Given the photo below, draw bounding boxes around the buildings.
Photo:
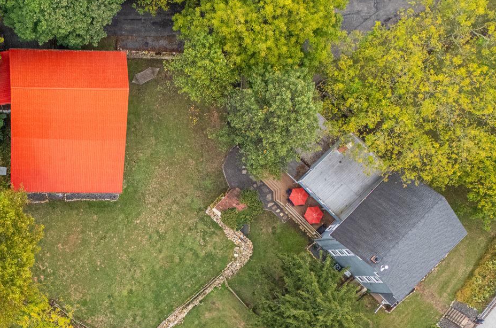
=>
[312,163,468,304]
[10,48,129,196]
